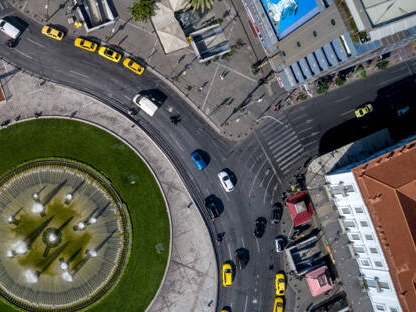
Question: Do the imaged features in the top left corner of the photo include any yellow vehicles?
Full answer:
Yes, in the top left corner of the photo there is a yellow vehicle.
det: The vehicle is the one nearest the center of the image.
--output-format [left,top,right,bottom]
[191,151,207,171]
